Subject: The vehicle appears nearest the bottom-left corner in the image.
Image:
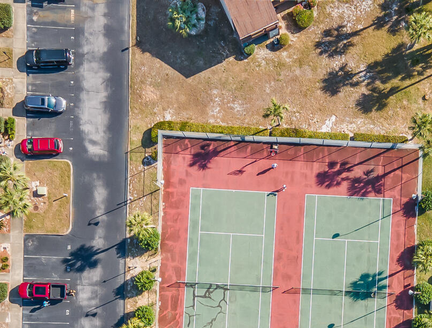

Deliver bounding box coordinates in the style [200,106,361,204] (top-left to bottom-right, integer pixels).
[19,281,69,300]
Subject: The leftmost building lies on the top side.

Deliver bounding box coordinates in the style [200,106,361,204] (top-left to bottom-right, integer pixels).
[219,0,279,53]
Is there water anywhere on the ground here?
No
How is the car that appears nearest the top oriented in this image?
from left to right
